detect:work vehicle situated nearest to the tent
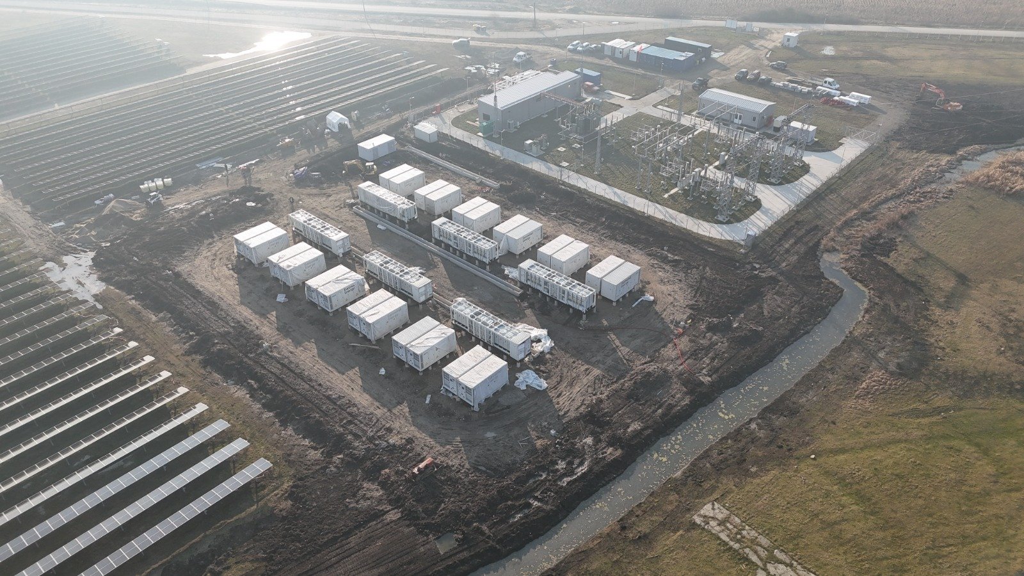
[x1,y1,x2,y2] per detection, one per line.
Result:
[345,156,378,177]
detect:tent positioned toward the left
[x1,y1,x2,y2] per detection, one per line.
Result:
[322,109,350,132]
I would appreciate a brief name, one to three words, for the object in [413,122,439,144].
shed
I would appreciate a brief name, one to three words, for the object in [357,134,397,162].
building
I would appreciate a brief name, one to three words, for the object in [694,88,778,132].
building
